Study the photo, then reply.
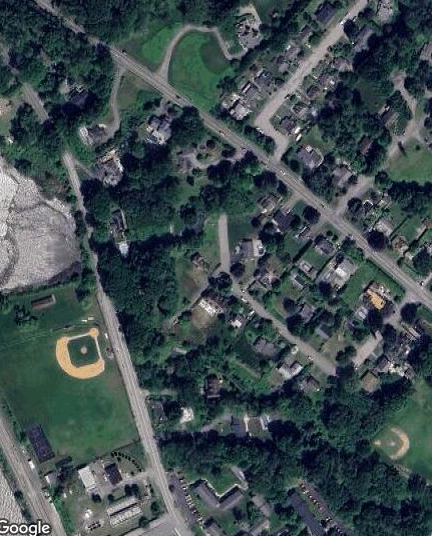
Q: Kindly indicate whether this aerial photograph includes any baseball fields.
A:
Yes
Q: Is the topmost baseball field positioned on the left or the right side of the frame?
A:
left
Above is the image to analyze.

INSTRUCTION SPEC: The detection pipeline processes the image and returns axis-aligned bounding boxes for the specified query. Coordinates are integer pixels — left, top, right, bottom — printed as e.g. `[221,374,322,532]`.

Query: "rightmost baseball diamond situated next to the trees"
[374,427,410,461]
